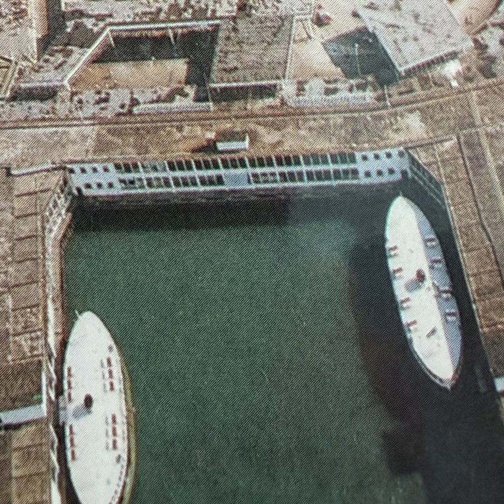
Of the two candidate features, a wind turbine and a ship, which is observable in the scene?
ship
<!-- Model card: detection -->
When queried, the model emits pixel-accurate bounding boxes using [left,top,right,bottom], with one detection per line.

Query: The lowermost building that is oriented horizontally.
[0,73,504,212]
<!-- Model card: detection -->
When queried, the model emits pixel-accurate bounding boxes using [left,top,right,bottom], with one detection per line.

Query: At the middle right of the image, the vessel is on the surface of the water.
[386,202,471,401]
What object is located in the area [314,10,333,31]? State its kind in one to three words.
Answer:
car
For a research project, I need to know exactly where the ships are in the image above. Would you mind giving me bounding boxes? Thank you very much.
[64,318,137,504]
[386,202,471,401]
